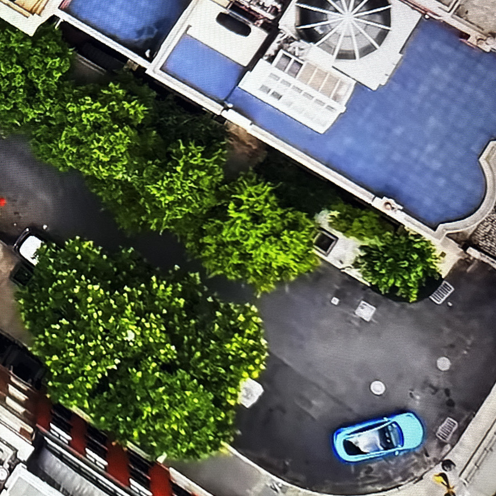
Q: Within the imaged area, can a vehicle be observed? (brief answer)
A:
Yes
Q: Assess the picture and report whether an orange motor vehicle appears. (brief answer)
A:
No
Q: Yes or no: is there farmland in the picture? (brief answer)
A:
No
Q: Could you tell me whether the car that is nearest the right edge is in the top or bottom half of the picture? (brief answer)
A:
bottom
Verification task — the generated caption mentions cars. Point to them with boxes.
[333,414,429,466]
[5,223,74,289]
